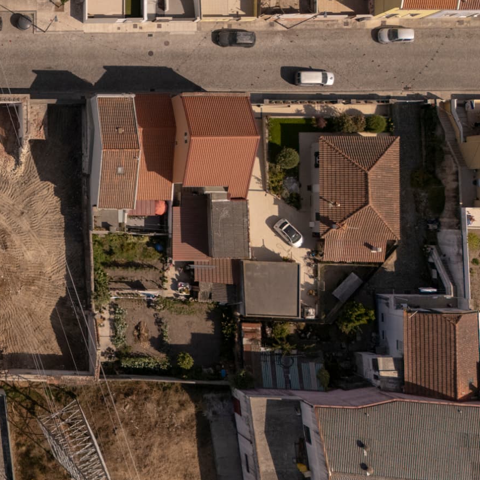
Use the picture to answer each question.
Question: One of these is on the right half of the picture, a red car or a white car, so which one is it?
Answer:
white car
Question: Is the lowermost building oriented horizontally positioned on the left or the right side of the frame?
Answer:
right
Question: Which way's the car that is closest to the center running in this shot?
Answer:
diagonally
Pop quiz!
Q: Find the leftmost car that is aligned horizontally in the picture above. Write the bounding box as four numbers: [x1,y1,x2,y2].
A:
[214,30,255,48]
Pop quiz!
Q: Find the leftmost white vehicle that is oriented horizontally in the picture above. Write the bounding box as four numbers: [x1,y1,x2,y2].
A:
[294,69,332,87]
